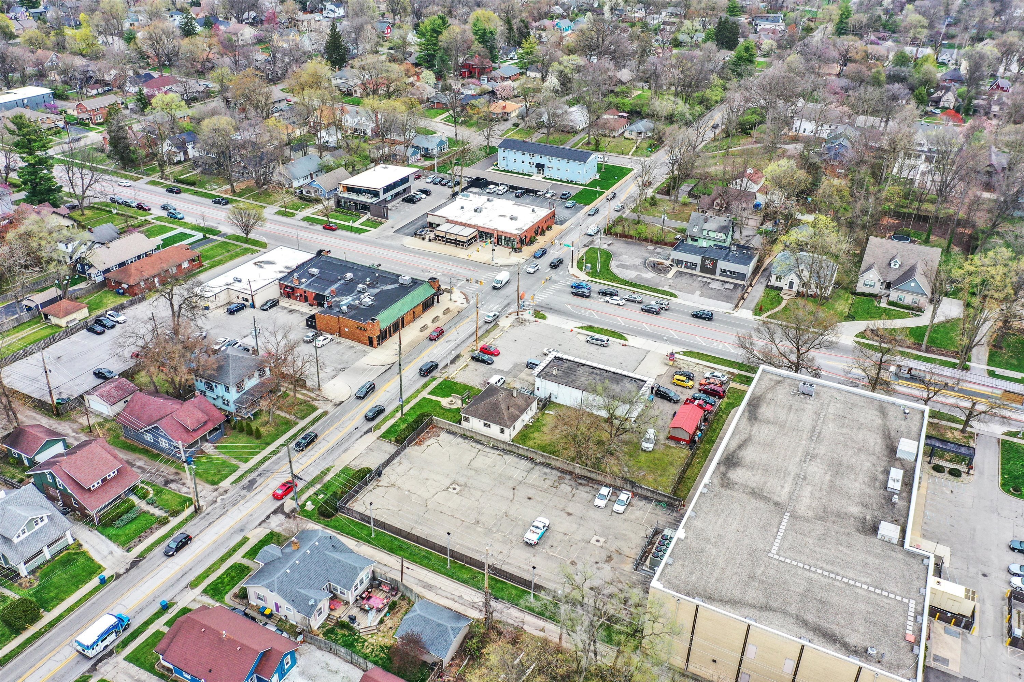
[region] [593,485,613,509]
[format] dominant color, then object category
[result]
white car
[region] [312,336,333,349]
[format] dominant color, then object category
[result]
white vehicle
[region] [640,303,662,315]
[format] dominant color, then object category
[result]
gray vehicle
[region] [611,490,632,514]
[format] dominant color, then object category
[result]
white car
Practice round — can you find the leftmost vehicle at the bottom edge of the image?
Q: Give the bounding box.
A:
[70,615,134,669]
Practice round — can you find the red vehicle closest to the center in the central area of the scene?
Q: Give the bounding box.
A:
[478,345,500,357]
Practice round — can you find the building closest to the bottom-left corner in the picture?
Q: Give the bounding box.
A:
[0,487,83,589]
